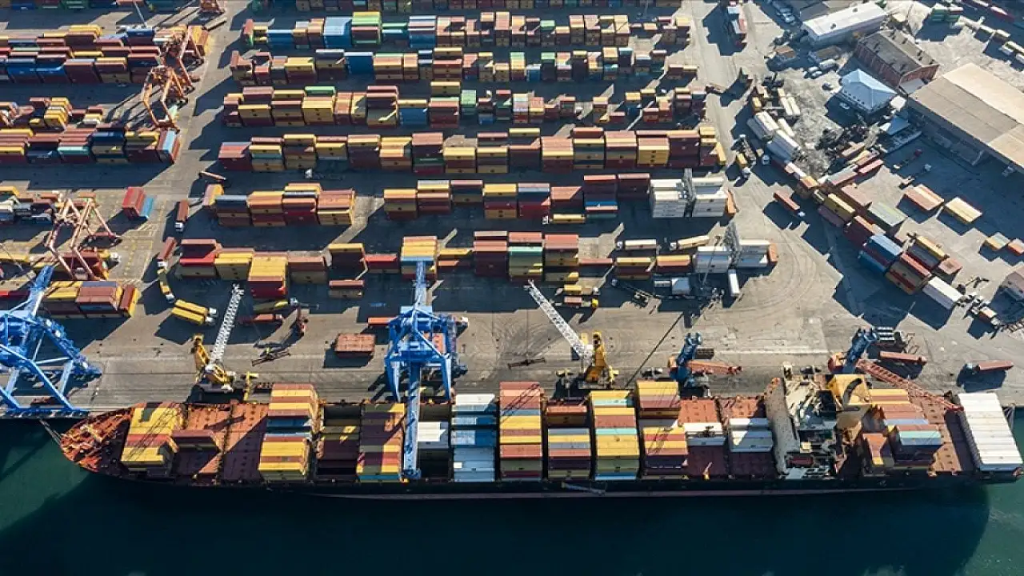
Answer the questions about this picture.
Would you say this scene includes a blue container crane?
Yes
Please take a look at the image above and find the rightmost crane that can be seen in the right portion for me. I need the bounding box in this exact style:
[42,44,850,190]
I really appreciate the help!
[822,329,969,442]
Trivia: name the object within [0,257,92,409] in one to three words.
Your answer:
container crane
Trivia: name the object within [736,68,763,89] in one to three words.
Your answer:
work vehicle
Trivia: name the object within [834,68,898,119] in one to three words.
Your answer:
building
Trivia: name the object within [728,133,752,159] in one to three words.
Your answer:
work vehicle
